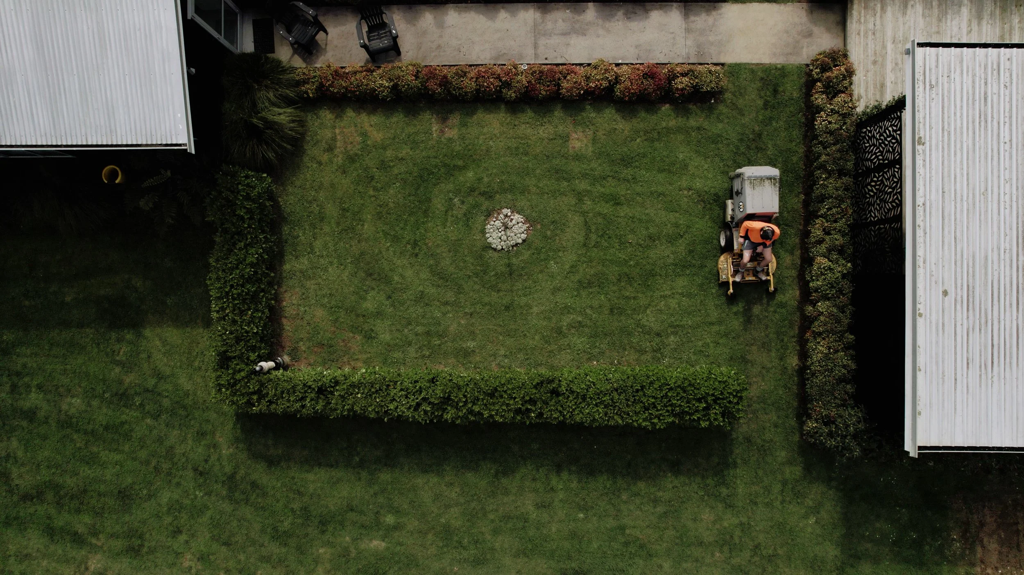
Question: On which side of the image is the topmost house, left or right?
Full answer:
You can find the topmost house on the left side of the picture.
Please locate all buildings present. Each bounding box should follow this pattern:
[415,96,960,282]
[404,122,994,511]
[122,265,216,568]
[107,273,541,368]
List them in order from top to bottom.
[0,0,249,168]
[857,39,1024,458]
